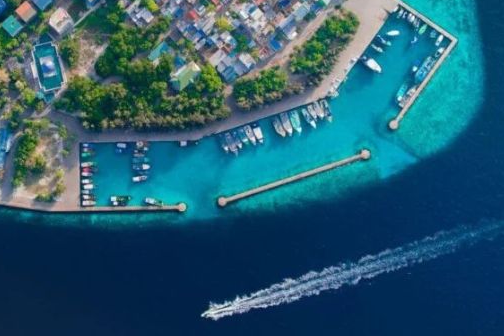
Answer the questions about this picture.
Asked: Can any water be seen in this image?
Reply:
Yes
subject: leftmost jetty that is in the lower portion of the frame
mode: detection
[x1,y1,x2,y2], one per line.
[79,200,189,215]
